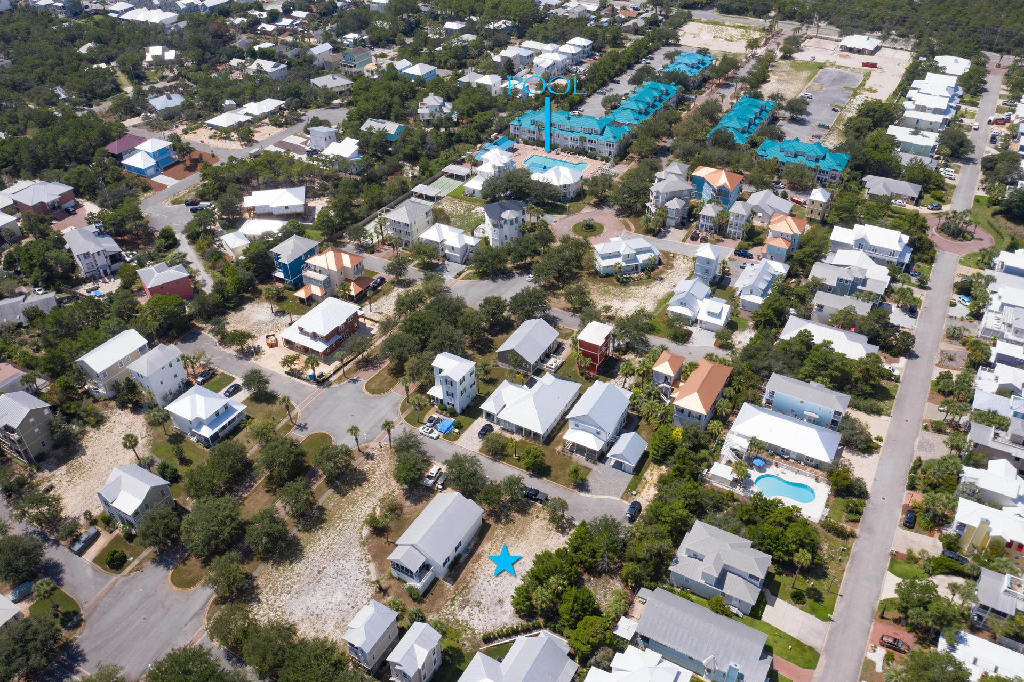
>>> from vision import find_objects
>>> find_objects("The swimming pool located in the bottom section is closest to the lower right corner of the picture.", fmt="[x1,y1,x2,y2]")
[754,473,818,504]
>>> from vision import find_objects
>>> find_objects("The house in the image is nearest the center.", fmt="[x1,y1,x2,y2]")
[495,320,566,375]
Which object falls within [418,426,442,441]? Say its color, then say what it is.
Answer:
white car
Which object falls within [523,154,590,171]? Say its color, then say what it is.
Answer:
blue swimming pool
